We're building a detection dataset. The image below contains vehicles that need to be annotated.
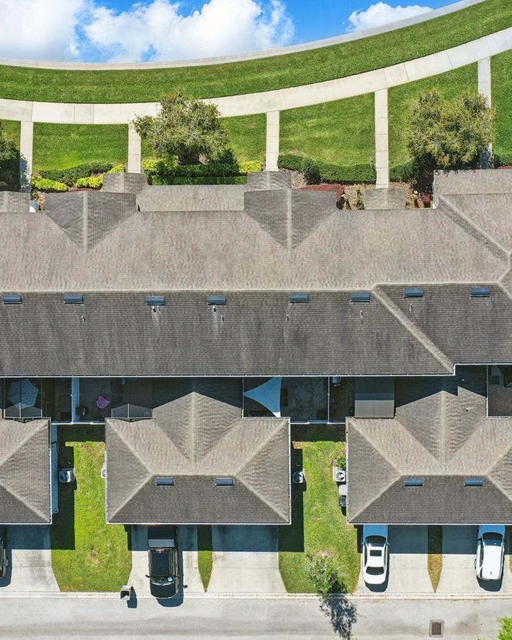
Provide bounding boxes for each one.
[146,526,181,594]
[474,526,509,580]
[359,526,392,586]
[0,526,10,580]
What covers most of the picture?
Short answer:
buildings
